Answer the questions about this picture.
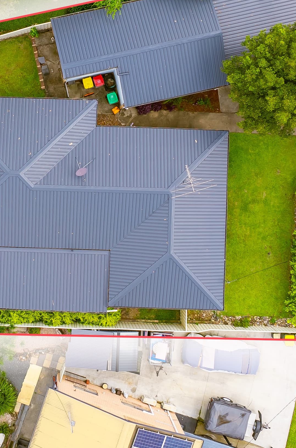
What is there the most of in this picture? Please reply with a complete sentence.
The bulk of the photo consists of buildings.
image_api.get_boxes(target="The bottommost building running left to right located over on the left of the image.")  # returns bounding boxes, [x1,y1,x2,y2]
[26,374,187,448]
